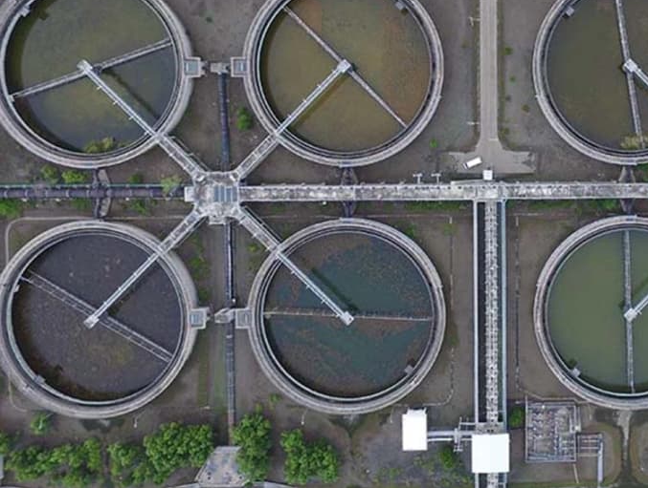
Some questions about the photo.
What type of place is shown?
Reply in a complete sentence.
What you see here is an industrial area.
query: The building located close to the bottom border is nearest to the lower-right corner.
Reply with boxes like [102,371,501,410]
[471,430,510,474]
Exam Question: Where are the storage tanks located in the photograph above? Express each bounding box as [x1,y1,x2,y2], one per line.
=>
[535,0,648,161]
[0,221,210,416]
[0,0,204,165]
[535,217,648,407]
[230,0,442,163]
[233,219,444,412]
